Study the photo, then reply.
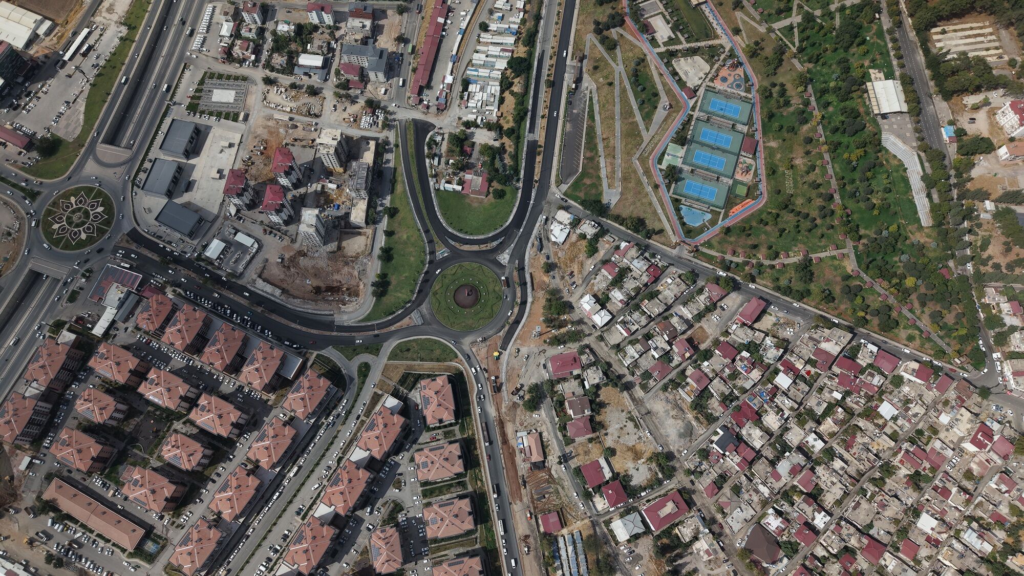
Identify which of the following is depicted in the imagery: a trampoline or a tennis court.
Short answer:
tennis court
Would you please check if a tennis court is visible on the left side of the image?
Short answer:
No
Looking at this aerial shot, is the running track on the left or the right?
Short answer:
right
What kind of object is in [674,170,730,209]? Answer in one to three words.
tennis court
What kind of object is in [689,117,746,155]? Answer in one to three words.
tennis court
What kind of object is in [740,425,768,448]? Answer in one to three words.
house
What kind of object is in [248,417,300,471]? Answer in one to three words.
building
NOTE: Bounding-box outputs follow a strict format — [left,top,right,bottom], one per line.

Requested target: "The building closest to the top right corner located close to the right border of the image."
[986,97,1024,139]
